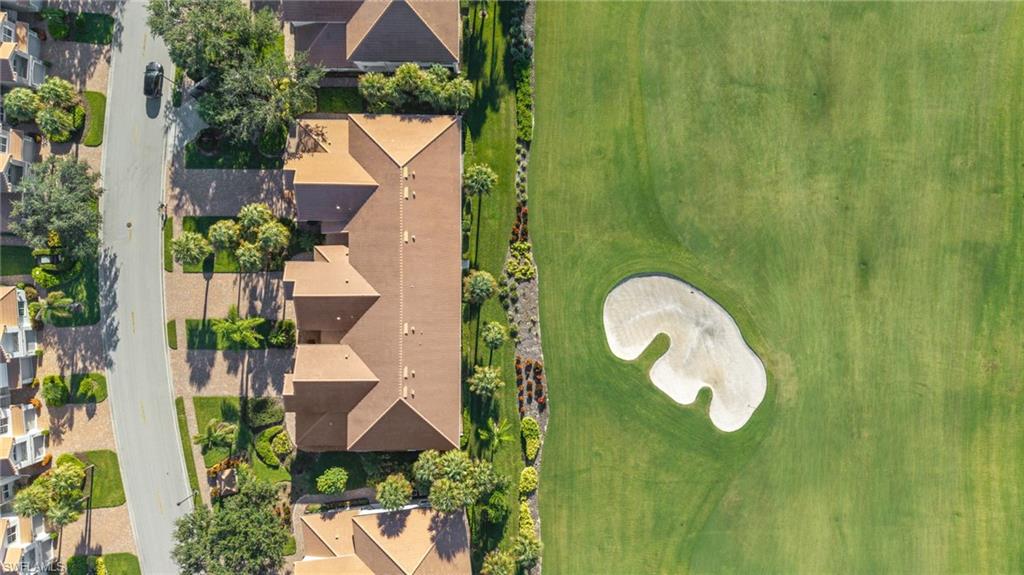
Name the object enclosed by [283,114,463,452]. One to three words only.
house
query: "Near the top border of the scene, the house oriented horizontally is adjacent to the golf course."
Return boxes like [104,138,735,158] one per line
[279,0,460,75]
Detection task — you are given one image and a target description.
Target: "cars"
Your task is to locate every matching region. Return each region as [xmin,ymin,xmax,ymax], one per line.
[145,63,164,99]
